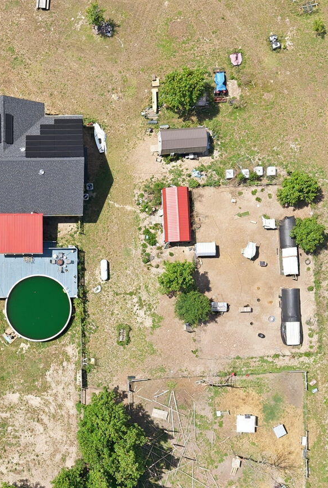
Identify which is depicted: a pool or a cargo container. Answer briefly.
pool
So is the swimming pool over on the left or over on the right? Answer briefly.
left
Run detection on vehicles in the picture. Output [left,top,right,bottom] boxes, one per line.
[269,32,283,50]
[213,63,230,101]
